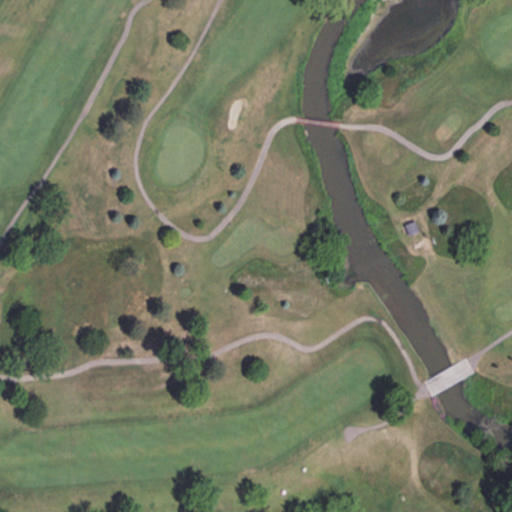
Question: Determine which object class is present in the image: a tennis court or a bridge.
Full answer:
It is a bridge that can be seen here.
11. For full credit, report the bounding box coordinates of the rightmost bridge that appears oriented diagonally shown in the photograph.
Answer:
[424,358,476,398]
